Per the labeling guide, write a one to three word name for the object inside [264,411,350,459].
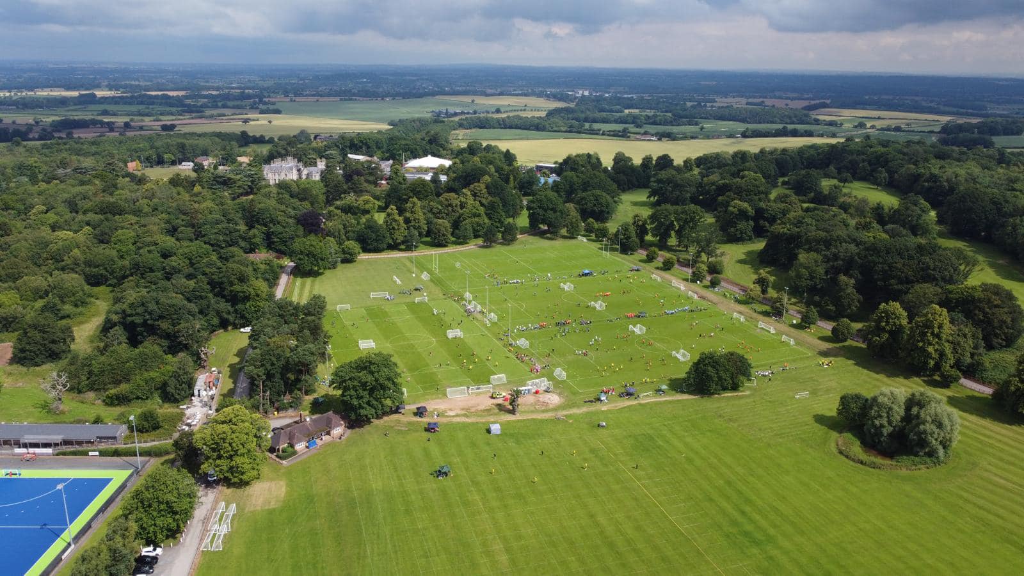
building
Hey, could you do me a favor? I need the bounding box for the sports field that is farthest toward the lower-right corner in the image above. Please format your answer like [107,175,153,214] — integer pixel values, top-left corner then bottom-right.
[197,232,1024,576]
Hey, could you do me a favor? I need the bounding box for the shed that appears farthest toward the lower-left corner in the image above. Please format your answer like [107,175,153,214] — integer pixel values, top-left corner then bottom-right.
[0,420,134,451]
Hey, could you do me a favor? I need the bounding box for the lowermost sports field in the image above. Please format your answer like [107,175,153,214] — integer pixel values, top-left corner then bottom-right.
[0,479,113,576]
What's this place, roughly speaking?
sports ground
